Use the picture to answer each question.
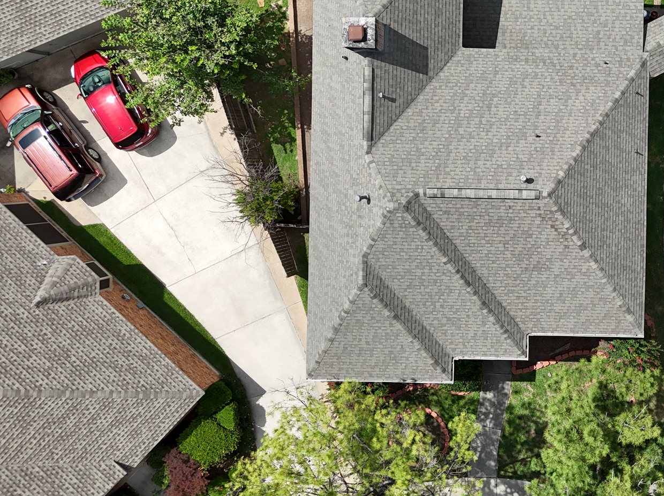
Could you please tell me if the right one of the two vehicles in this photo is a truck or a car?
car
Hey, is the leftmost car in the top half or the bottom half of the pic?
top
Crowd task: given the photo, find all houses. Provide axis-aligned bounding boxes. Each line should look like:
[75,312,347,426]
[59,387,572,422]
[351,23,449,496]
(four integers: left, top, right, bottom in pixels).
[0,191,216,496]
[304,0,652,384]
[0,0,163,71]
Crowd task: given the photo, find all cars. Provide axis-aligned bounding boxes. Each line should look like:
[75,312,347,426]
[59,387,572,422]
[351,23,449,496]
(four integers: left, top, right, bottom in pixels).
[0,79,100,201]
[71,47,159,159]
